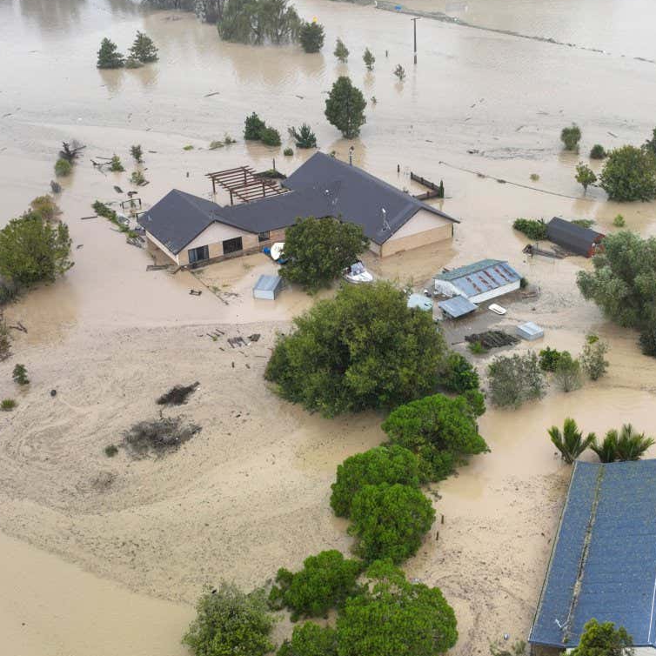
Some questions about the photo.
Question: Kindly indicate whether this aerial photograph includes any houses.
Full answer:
Yes, a house appears in the view.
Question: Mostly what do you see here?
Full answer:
The scene is dominated by water.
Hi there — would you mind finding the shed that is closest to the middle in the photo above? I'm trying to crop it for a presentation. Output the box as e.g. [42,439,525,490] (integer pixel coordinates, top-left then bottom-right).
[250,271,284,298]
